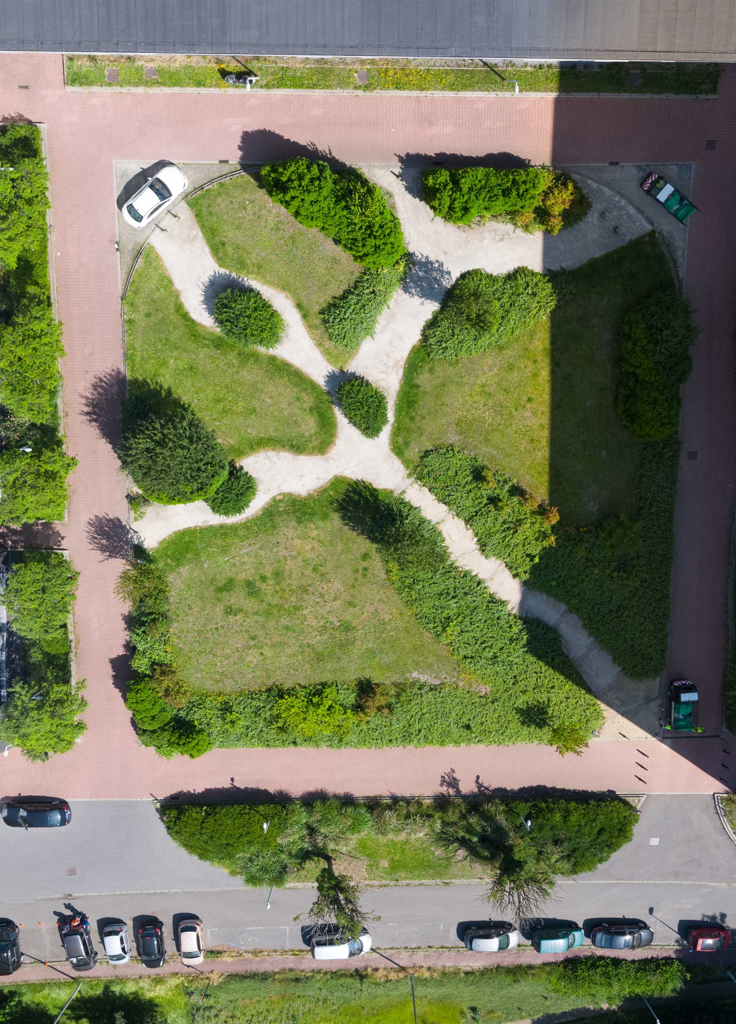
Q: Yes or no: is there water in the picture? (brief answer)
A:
No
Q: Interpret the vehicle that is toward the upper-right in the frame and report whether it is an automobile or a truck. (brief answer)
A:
truck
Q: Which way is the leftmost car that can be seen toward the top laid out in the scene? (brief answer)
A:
on a diagonal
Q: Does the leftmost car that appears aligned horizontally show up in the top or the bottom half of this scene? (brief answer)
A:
bottom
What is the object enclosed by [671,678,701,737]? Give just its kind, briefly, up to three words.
truck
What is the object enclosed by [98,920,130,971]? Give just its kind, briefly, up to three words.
car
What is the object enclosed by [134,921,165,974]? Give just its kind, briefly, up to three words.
car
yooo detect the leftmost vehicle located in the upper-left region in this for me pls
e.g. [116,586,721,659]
[119,162,190,231]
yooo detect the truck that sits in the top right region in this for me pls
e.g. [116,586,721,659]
[645,171,707,223]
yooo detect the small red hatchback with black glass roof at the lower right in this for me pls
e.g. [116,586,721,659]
[689,923,736,955]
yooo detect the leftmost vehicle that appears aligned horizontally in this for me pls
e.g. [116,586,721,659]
[0,800,69,833]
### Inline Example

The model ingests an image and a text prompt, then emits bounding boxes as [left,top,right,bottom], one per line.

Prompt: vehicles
[119,162,190,231]
[671,678,701,737]
[592,921,657,954]
[134,921,165,974]
[532,920,586,955]
[0,921,19,977]
[0,800,69,833]
[309,924,371,960]
[689,923,736,955]
[98,920,130,971]
[56,919,94,974]
[645,171,707,223]
[465,922,520,954]
[174,918,204,969]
